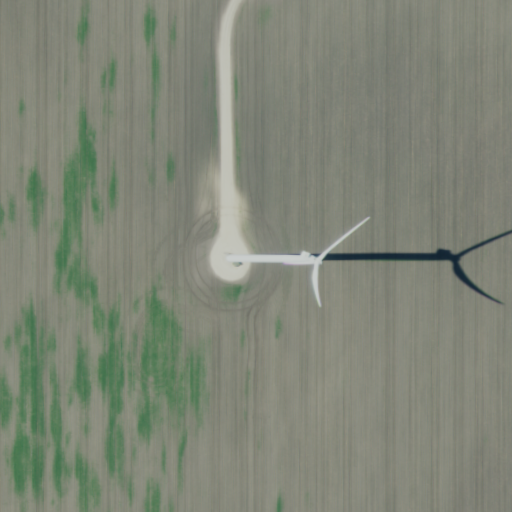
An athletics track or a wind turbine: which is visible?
wind turbine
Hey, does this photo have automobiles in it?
No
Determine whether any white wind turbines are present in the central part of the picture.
Yes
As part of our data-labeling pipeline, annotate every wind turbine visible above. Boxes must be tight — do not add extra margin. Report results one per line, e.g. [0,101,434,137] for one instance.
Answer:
[224,216,369,308]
